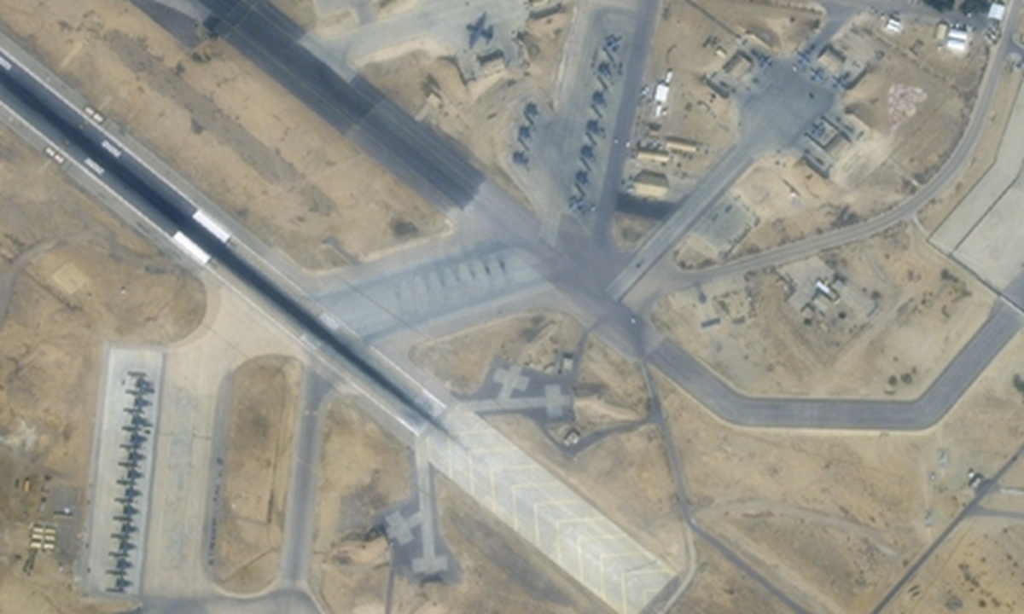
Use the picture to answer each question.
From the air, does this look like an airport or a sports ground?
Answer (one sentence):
The area seen from above is an airport.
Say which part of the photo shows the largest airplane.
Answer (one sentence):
Look in the top portion of the view to spot the largest airplane.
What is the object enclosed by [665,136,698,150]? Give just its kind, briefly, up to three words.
building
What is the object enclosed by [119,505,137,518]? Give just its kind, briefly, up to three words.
airplane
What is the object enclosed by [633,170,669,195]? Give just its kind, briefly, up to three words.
hangar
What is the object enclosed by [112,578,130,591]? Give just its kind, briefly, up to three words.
airplane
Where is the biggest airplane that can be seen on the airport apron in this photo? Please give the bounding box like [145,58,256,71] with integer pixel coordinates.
[466,11,493,47]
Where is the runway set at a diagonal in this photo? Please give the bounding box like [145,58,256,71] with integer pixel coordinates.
[0,47,445,437]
